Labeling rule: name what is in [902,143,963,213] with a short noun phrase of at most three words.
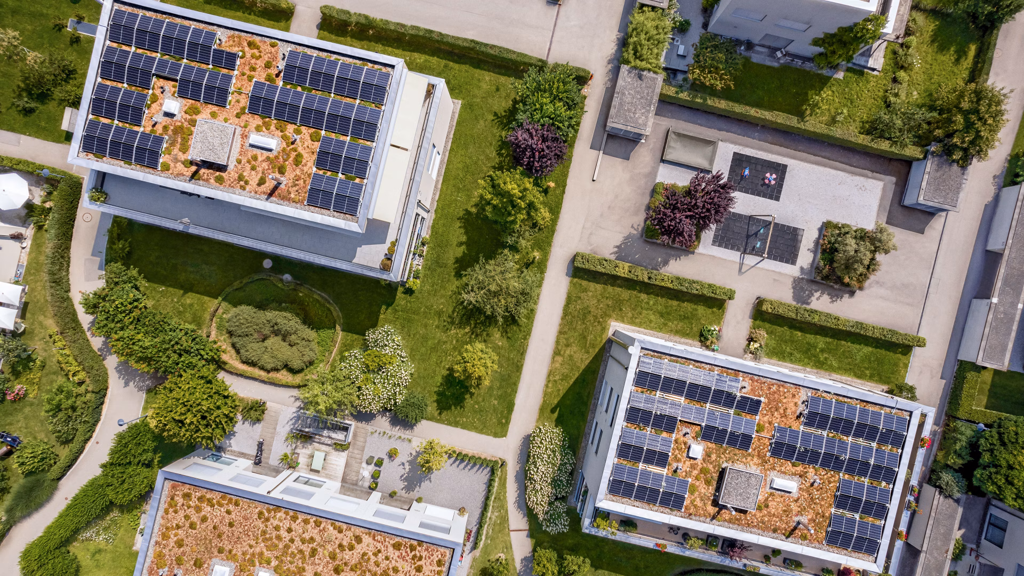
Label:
building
